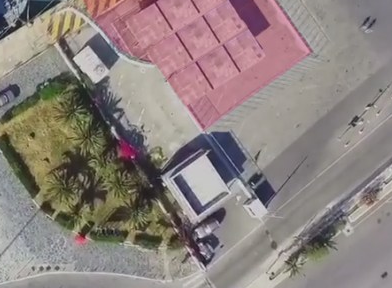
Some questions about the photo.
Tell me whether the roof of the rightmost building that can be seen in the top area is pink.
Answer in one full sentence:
Yes, the roof of the rightmost building that can be seen in the top area is pink.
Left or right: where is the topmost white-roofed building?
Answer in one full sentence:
You can find the topmost white-roofed building on the left side of the picture.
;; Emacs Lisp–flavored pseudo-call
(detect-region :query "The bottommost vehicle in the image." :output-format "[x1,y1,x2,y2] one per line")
[194,238,217,261]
